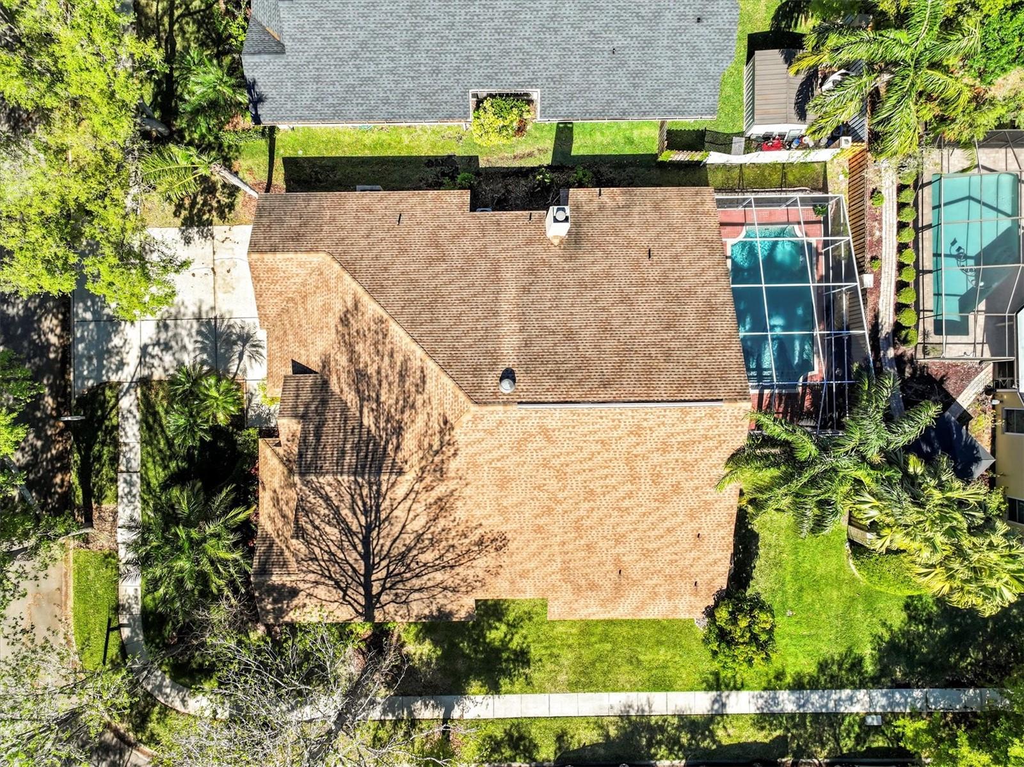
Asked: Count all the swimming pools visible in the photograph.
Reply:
two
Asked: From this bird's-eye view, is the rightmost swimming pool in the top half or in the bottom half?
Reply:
top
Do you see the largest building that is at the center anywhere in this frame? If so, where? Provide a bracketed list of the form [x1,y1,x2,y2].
[248,187,750,623]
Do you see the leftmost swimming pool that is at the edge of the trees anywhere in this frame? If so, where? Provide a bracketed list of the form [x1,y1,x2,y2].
[726,220,821,395]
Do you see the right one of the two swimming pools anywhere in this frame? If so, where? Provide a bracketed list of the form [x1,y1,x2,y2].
[933,170,1022,338]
